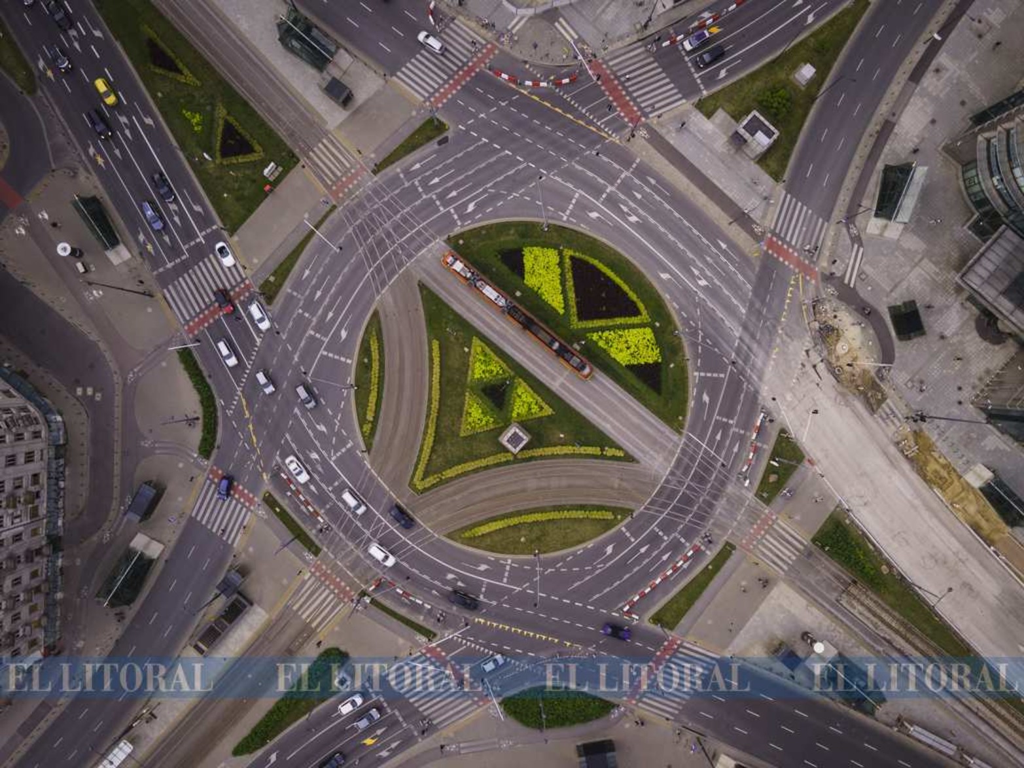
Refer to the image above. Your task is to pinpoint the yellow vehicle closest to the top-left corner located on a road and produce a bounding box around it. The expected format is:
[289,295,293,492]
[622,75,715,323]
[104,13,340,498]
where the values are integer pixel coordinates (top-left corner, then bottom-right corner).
[92,75,116,106]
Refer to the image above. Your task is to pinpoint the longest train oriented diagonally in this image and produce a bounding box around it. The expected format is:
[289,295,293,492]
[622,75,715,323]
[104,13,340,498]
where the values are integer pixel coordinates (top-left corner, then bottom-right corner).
[441,252,594,378]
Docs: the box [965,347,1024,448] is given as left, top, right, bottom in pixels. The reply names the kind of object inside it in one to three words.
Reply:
building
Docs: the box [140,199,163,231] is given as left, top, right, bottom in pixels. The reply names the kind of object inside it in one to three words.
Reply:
car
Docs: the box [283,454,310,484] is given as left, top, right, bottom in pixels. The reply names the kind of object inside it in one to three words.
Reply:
car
